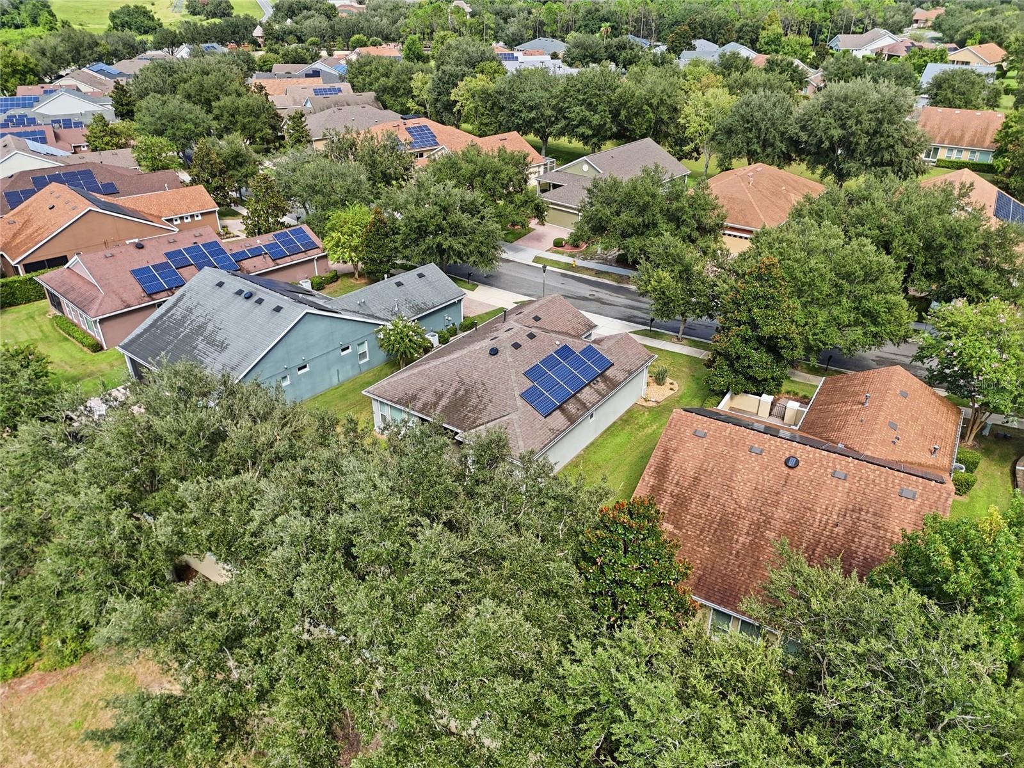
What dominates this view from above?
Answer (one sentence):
The scene is dominated by trees.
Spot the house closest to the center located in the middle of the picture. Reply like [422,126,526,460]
[368,293,658,480]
